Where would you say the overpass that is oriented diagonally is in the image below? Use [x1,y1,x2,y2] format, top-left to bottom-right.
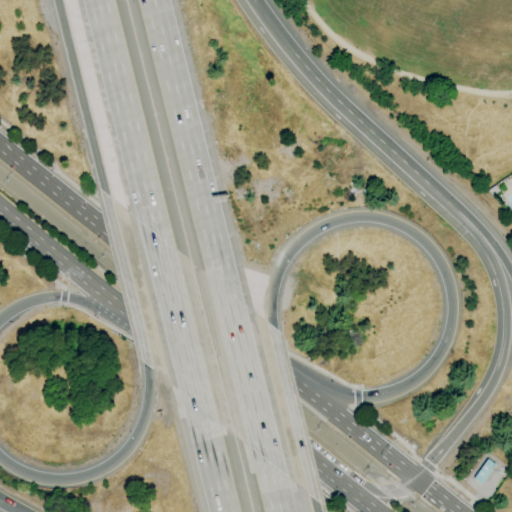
[100,190,324,504]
